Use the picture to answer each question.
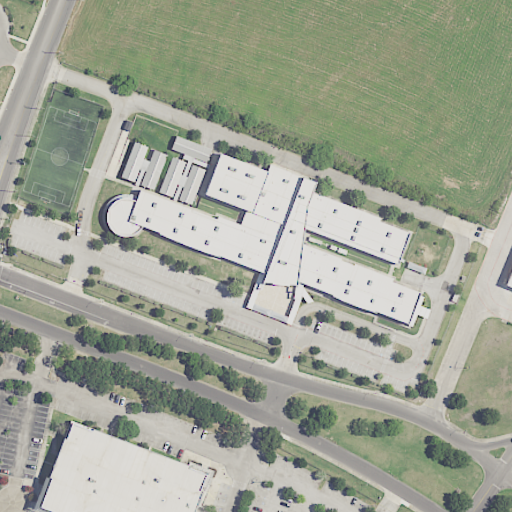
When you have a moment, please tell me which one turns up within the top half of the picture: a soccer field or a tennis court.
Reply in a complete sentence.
You can see a soccer field within the top half of the picture.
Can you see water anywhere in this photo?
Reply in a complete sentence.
No, the picture contains no water.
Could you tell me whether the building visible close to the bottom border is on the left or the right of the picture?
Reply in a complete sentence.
You can find the building visible close to the bottom border on the left side of the picture.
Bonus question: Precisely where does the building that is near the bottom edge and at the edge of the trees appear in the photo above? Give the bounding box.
[34,420,214,512]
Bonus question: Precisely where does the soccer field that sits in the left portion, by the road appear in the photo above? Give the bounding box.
[20,90,102,212]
